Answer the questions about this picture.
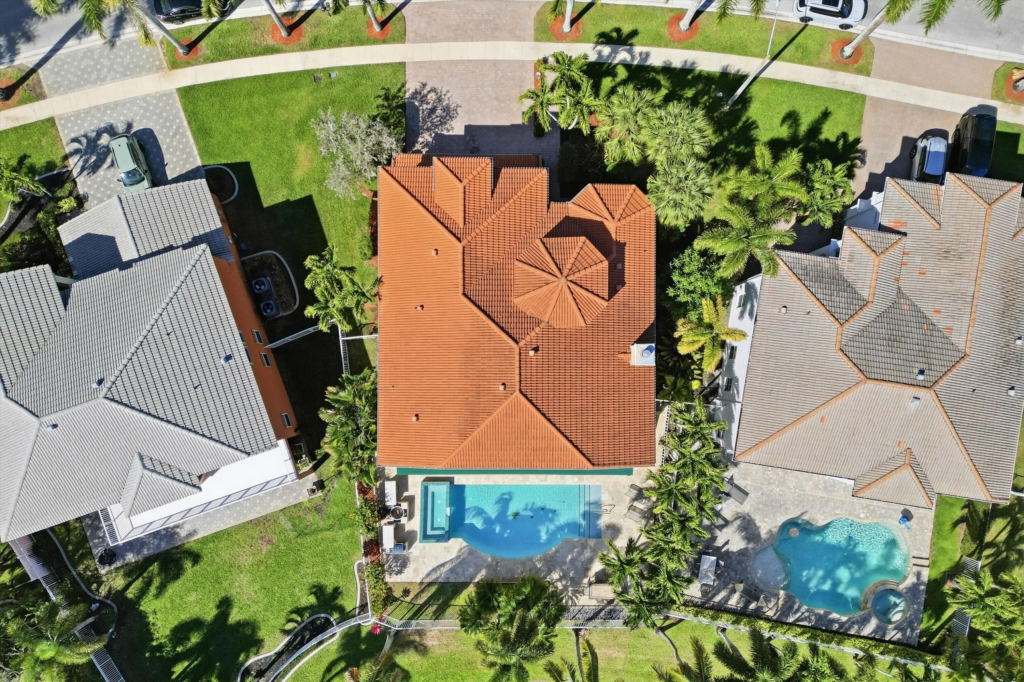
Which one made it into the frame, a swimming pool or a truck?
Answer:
swimming pool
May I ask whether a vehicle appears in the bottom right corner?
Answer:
No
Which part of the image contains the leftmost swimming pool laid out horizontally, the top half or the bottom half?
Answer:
bottom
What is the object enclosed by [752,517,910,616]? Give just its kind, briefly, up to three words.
swimming pool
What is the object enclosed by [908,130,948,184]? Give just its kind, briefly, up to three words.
car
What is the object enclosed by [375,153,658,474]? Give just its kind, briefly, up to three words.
house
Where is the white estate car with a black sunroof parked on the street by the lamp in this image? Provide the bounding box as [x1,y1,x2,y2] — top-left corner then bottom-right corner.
[791,0,863,29]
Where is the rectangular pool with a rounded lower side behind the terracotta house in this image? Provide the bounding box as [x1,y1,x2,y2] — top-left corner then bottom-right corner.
[451,485,614,558]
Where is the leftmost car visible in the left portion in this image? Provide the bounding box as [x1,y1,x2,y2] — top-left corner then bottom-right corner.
[106,125,160,199]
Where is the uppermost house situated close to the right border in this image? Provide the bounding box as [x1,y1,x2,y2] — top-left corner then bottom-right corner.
[706,171,1024,510]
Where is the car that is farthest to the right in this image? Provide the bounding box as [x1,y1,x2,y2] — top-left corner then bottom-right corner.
[946,104,999,178]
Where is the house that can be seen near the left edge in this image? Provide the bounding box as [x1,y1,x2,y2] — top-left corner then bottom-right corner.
[0,178,316,548]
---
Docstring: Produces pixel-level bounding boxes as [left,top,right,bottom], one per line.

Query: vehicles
[908,130,948,184]
[160,0,238,26]
[791,0,863,29]
[106,125,160,199]
[946,104,999,178]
